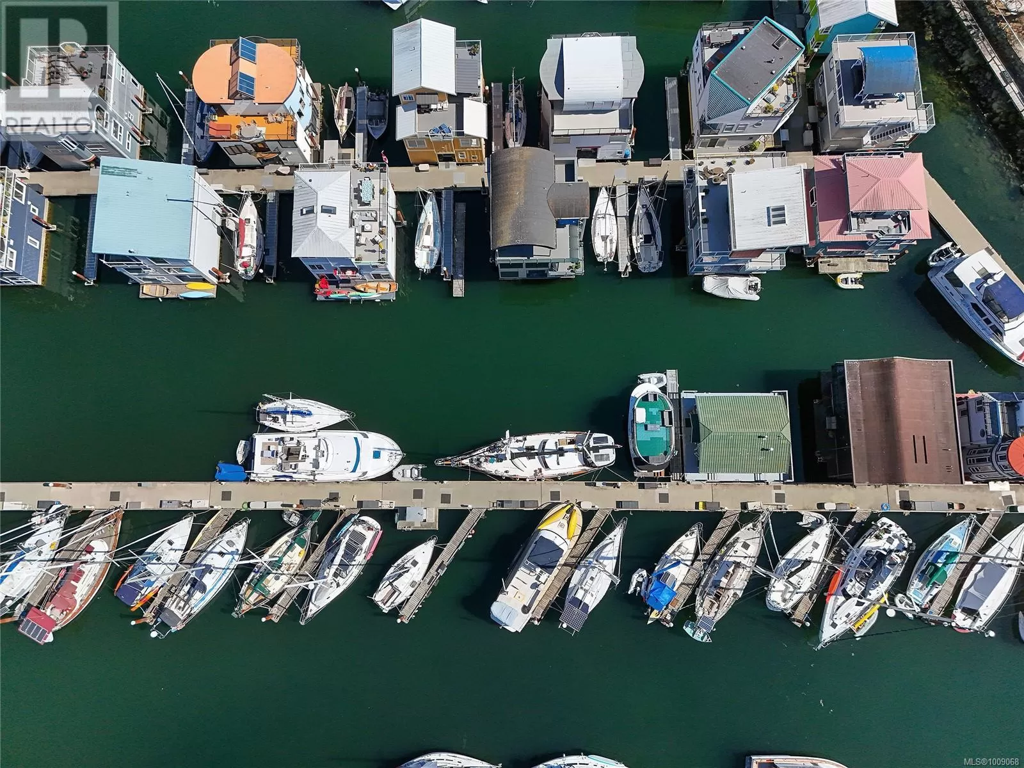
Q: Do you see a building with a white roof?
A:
Yes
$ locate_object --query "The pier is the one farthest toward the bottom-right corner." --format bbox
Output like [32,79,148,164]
[927,510,1003,621]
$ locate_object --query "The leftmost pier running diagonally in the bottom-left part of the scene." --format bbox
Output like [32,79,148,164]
[7,510,111,619]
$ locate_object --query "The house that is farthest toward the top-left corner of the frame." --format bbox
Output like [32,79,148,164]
[0,39,150,164]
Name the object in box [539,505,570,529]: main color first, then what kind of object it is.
yellow boat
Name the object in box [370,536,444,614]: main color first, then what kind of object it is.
white boat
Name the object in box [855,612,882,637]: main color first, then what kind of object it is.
white boat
